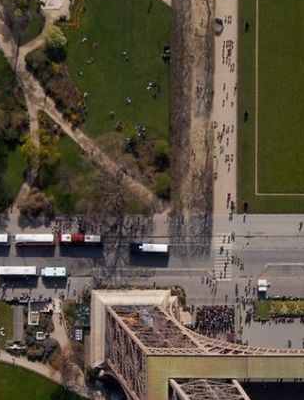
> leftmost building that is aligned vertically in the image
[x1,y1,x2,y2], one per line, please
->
[13,305,26,342]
